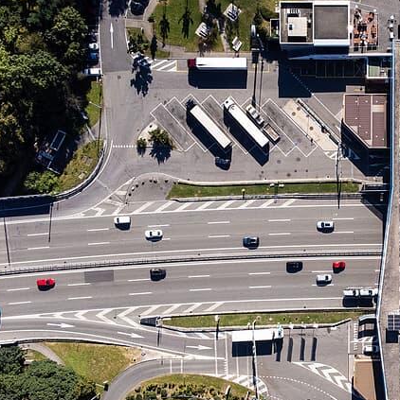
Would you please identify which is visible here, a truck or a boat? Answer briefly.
truck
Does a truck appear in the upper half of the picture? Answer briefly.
Yes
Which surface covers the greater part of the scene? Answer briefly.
paved ground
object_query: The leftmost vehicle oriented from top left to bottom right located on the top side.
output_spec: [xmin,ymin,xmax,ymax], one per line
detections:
[186,99,234,151]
